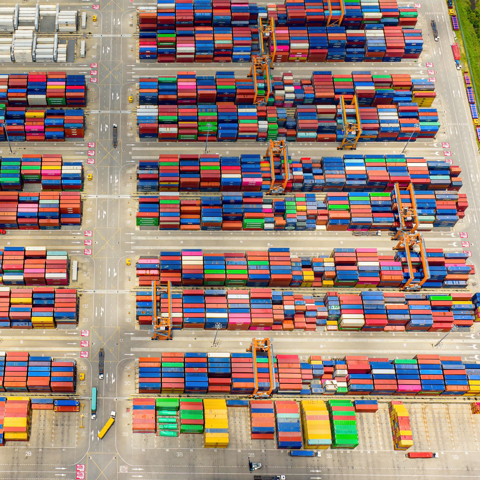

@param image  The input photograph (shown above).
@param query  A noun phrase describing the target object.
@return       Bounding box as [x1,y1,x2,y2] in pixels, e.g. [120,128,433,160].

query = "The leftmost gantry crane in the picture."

[150,279,173,341]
